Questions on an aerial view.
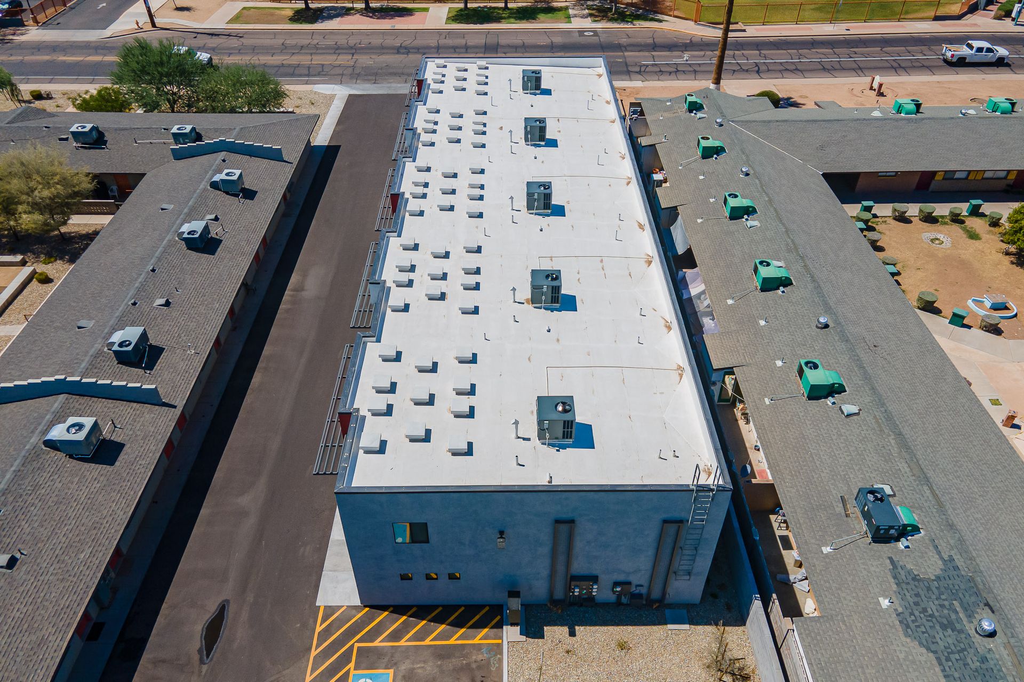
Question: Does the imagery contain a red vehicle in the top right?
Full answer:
No, looking in the top right, there is no red vehicle.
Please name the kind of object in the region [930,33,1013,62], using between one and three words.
truck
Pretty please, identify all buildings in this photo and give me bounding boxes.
[334,55,732,609]
[0,105,320,682]
[638,83,1024,682]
